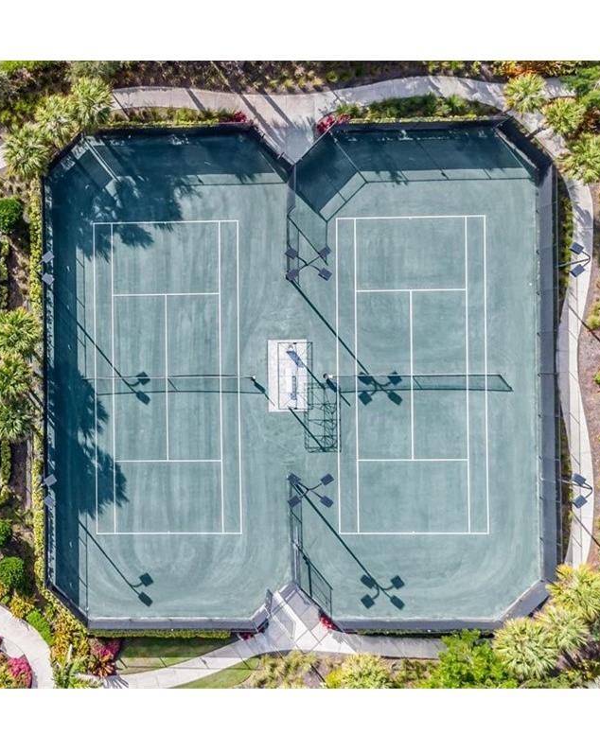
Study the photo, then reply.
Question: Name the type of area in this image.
sports ground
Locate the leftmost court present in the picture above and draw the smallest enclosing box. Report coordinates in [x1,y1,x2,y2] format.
[50,136,293,619]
